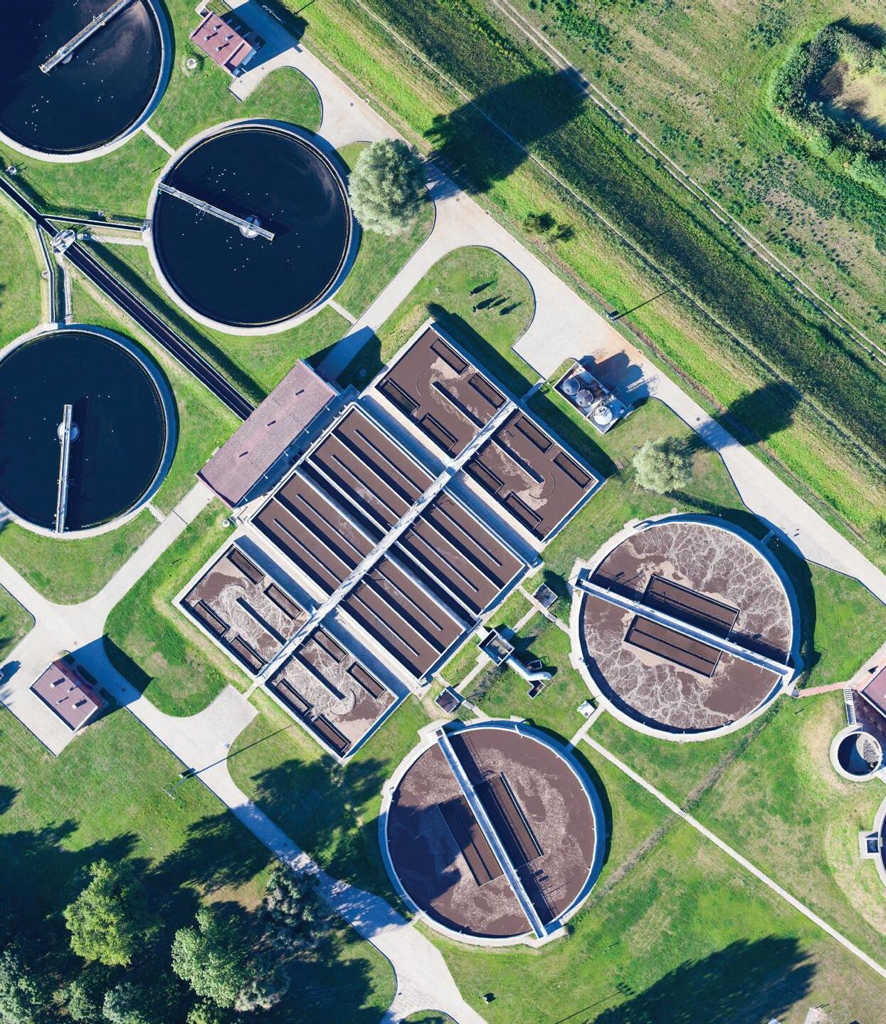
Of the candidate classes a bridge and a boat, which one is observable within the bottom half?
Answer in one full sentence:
There is a bridge within the bottom half.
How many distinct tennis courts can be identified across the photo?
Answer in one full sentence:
I count no tennis courts.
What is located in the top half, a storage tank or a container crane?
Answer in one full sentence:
The feature located in the top half is a storage tank.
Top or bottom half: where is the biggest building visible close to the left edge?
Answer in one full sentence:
The biggest building visible close to the left edge sits in the bottom half of the picture.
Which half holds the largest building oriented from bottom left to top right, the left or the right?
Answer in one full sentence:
The largest building oriented from bottom left to top right appears in the left half of the scene.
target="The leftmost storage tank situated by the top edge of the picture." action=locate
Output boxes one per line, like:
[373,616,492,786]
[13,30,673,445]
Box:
[0,0,172,163]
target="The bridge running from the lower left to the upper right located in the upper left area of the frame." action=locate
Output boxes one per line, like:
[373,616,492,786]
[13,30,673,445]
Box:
[38,0,133,73]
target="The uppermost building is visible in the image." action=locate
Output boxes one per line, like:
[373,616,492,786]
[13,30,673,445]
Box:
[190,11,260,77]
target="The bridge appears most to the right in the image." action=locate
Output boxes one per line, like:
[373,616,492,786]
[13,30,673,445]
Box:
[575,570,798,681]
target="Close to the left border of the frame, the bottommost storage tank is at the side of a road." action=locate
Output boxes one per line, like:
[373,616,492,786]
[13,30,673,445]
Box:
[0,323,177,539]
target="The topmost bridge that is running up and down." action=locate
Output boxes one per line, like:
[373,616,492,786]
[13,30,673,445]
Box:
[53,403,74,534]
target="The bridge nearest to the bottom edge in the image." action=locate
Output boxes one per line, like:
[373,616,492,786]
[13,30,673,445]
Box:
[433,725,550,944]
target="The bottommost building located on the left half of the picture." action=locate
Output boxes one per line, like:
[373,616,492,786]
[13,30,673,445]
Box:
[29,659,106,732]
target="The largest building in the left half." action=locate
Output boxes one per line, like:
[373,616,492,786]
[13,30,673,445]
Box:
[197,358,341,511]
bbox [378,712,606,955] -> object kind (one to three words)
storage tank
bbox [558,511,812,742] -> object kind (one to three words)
storage tank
